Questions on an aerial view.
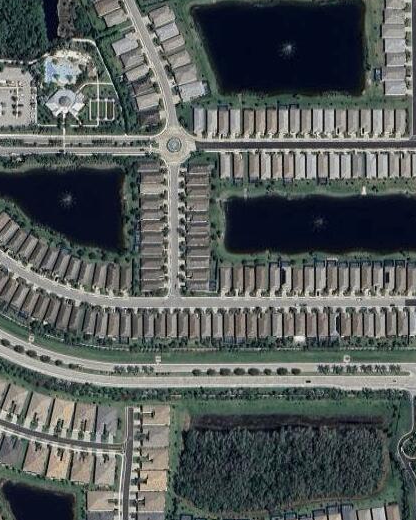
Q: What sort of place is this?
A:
residential area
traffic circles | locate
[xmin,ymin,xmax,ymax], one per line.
[152,124,196,168]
